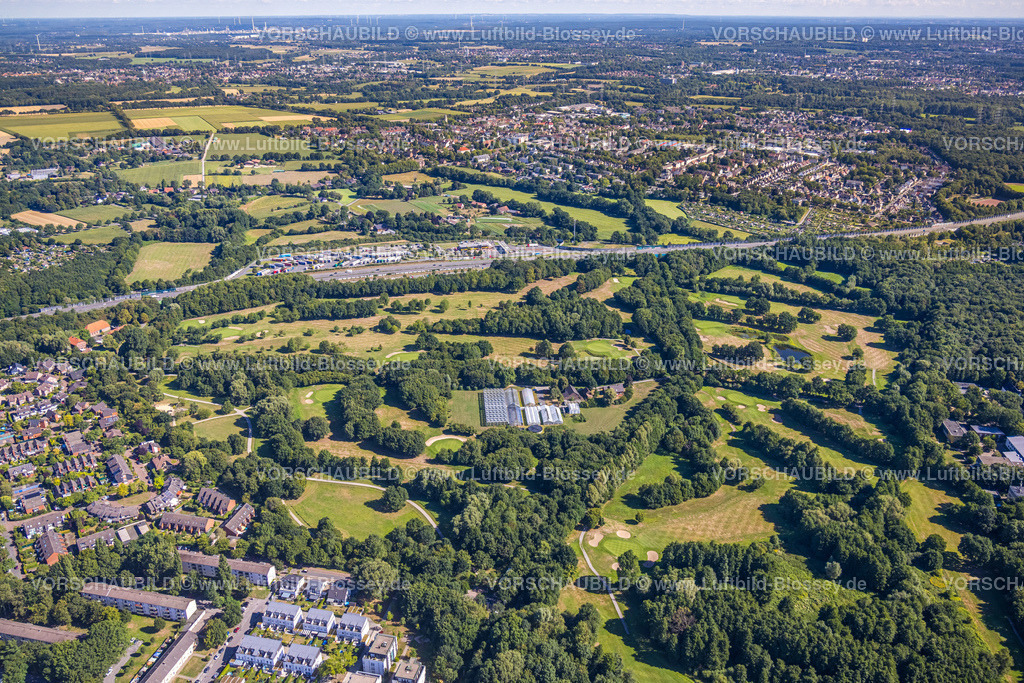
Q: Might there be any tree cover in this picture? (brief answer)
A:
Yes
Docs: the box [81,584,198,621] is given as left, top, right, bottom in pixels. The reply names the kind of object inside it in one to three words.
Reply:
building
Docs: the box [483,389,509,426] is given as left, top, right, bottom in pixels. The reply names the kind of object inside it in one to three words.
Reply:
greenhouse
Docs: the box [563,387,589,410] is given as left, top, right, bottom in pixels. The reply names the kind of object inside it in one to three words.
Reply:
barn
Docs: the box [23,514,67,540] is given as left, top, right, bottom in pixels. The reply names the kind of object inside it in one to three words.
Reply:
house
